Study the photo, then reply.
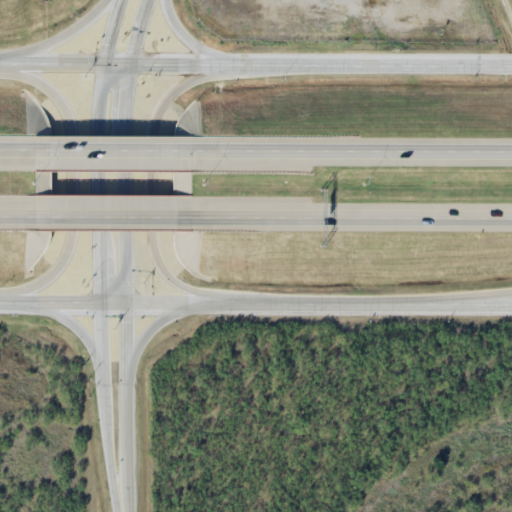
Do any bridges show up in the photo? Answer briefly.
Yes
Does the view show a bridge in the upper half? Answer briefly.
Yes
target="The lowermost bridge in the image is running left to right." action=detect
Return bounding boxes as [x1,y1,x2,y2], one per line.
[36,195,192,230]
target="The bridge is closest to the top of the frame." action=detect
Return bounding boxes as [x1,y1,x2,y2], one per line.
[36,136,192,171]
